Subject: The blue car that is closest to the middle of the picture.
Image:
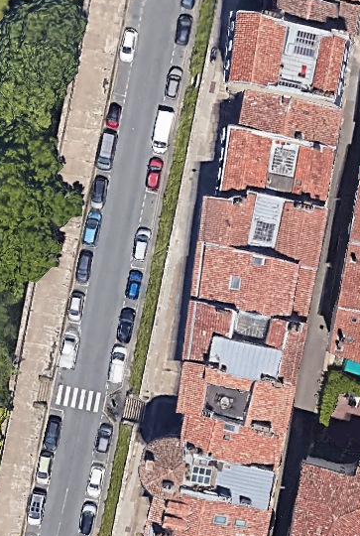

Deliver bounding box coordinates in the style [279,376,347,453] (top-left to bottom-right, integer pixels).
[124,267,145,302]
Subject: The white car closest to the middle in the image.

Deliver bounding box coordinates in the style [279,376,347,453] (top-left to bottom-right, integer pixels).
[130,224,154,263]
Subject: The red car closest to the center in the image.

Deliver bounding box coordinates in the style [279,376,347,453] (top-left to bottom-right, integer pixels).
[145,154,166,193]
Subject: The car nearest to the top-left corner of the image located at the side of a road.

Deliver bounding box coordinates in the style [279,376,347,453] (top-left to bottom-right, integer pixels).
[118,25,141,64]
